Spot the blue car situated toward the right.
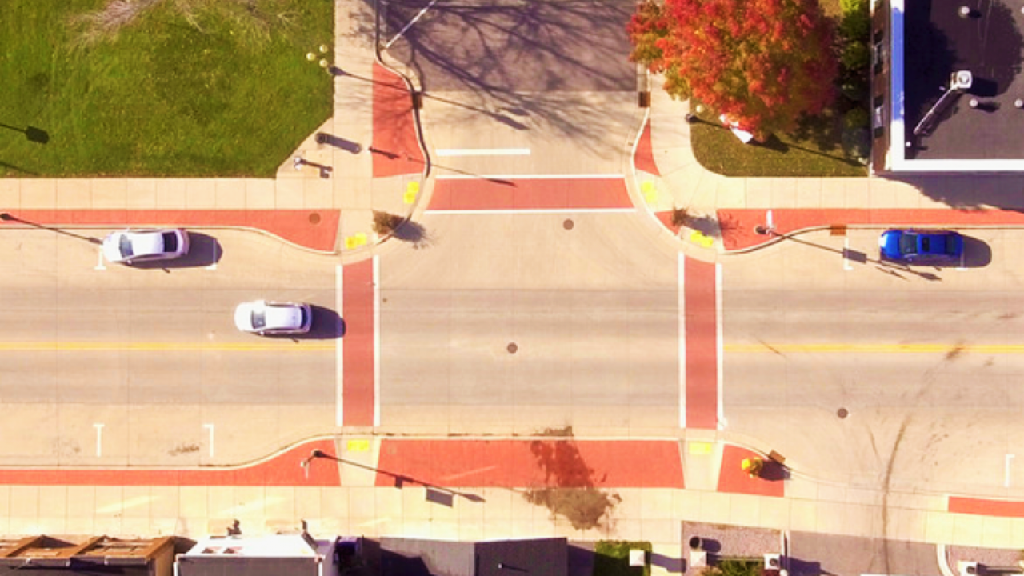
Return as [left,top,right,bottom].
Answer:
[879,227,965,264]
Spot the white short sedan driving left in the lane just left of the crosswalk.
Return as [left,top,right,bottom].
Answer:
[234,298,312,335]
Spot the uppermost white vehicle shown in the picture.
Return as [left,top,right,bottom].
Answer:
[103,227,190,264]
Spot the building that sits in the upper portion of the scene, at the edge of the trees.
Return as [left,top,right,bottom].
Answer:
[870,0,1024,179]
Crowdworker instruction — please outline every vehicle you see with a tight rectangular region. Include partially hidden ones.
[103,227,190,264]
[234,298,312,335]
[879,227,965,264]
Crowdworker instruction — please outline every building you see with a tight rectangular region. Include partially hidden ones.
[0,535,171,576]
[474,545,569,576]
[870,0,1024,179]
[176,534,326,576]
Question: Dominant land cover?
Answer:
paved ground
